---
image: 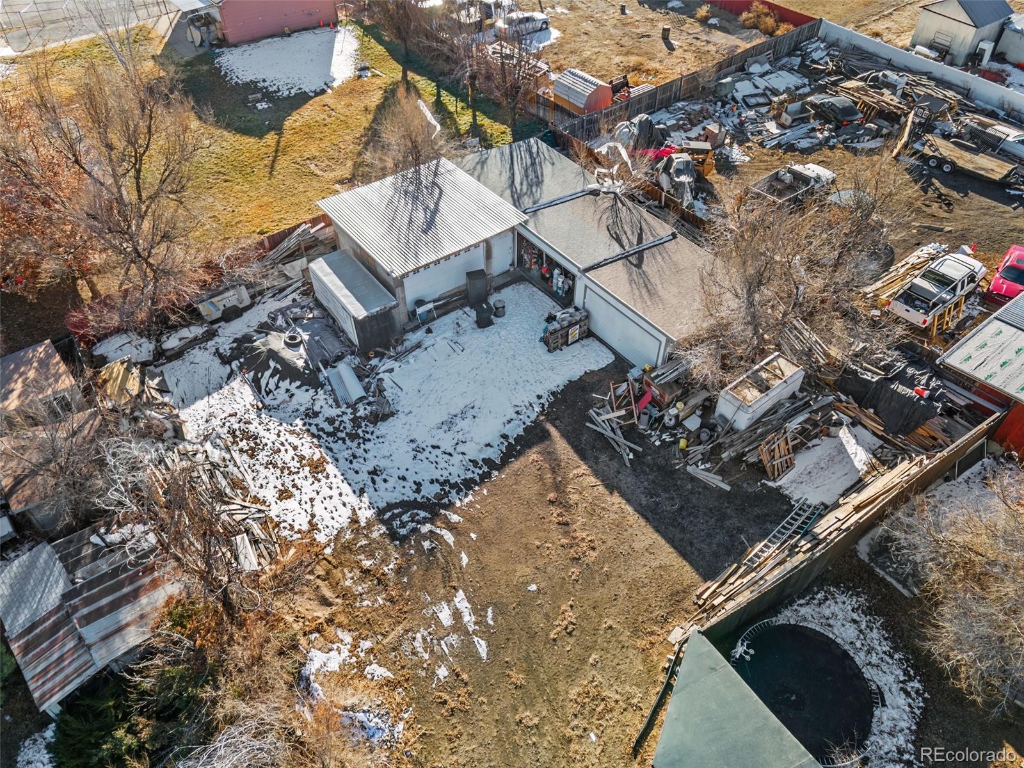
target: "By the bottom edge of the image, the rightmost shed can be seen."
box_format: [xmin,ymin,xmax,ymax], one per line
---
[652,628,823,768]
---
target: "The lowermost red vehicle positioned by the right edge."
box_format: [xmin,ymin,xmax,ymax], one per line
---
[981,244,1024,306]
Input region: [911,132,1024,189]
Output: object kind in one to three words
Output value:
trailer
